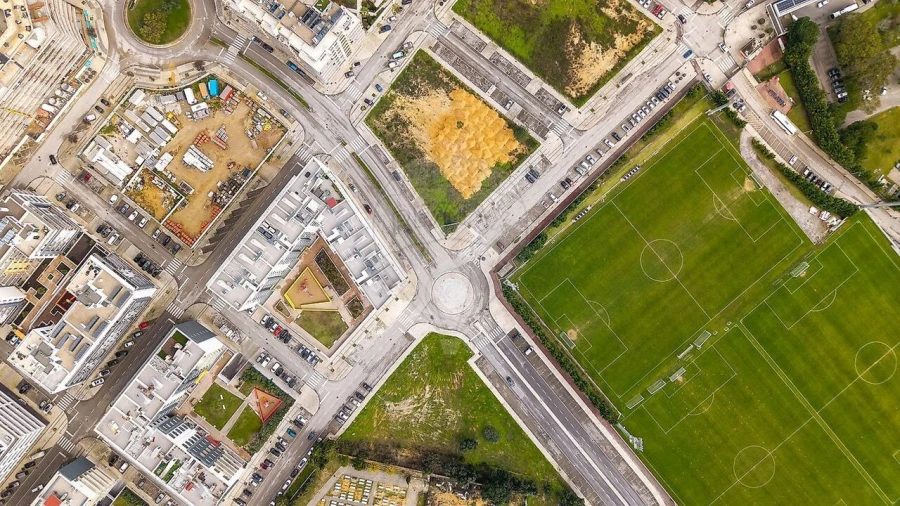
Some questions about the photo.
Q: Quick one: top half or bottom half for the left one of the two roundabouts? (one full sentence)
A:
Seen from above, the left one of the two roundabouts lies in the top half of the view.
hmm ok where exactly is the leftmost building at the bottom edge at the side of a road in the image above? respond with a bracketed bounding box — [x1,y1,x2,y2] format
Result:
[0,389,48,494]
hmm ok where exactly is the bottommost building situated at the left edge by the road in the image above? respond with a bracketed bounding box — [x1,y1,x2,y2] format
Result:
[28,459,112,506]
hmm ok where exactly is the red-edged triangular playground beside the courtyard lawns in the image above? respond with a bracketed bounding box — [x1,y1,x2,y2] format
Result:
[253,387,283,423]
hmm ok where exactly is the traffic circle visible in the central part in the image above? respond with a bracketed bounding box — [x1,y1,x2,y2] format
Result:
[417,257,489,329]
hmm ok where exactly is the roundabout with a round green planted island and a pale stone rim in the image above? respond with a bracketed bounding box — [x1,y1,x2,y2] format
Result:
[107,0,211,65]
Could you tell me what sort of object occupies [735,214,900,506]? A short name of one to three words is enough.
soccer field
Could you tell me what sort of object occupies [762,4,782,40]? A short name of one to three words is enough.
building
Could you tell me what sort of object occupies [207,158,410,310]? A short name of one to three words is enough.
building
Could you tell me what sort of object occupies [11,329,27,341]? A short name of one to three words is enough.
vehicle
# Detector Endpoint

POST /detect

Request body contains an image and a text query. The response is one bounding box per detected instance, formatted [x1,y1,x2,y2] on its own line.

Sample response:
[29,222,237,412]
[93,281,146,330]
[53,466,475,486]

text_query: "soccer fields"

[617,320,889,506]
[510,112,813,408]
[735,214,900,506]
